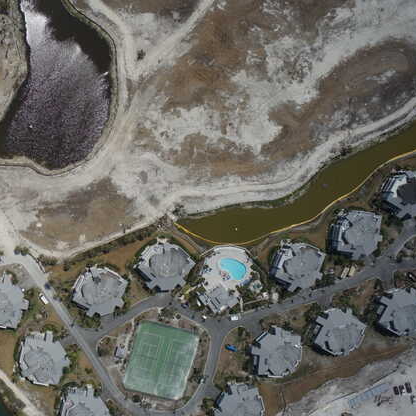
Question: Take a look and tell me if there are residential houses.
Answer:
Yes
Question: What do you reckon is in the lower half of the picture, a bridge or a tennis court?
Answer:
tennis court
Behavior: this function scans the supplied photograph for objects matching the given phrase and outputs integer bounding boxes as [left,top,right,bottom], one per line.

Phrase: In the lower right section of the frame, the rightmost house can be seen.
[374,283,416,335]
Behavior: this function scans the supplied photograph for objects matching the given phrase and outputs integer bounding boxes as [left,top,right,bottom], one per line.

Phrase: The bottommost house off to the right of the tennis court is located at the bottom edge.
[217,381,267,416]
